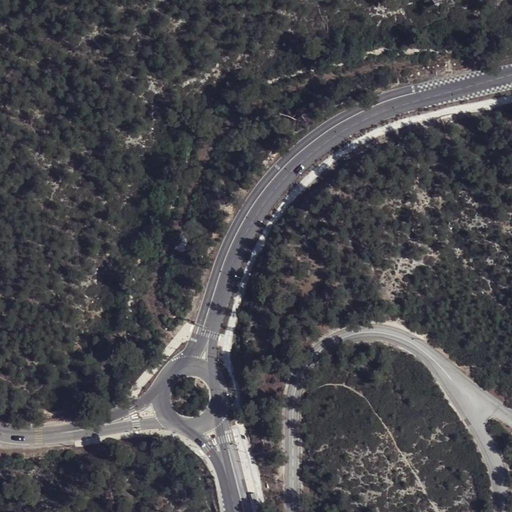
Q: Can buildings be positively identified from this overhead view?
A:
No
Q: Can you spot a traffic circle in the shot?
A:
Yes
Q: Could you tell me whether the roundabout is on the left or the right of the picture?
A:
left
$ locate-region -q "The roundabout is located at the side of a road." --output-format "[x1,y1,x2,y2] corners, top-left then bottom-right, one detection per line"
[104,340,238,474]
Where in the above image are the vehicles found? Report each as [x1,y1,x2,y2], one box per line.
[194,437,206,448]
[294,164,305,174]
[11,435,24,442]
